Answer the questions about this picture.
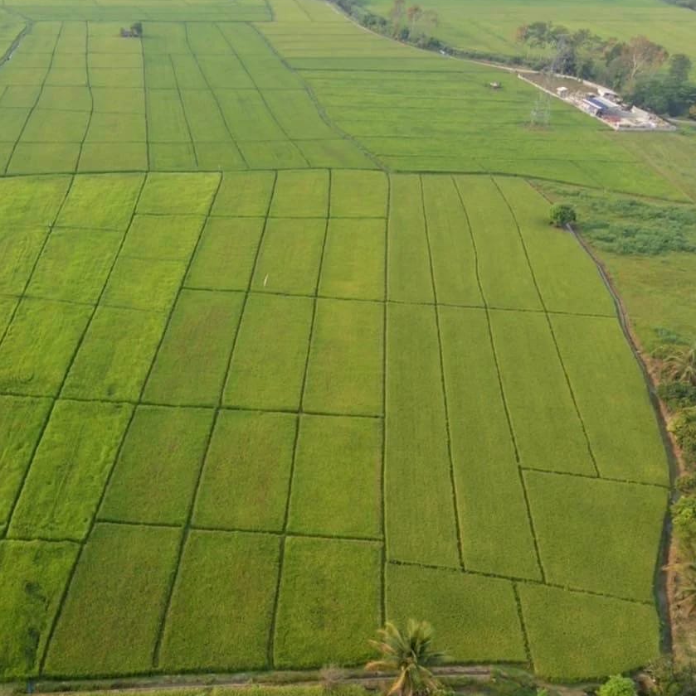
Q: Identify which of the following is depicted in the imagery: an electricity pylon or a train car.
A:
electricity pylon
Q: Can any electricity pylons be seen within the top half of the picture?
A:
Yes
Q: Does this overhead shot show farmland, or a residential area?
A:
farmland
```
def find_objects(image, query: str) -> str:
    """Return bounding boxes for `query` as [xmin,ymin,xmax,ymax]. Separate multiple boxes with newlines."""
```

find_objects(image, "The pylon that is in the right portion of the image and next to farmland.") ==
[529,31,570,127]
